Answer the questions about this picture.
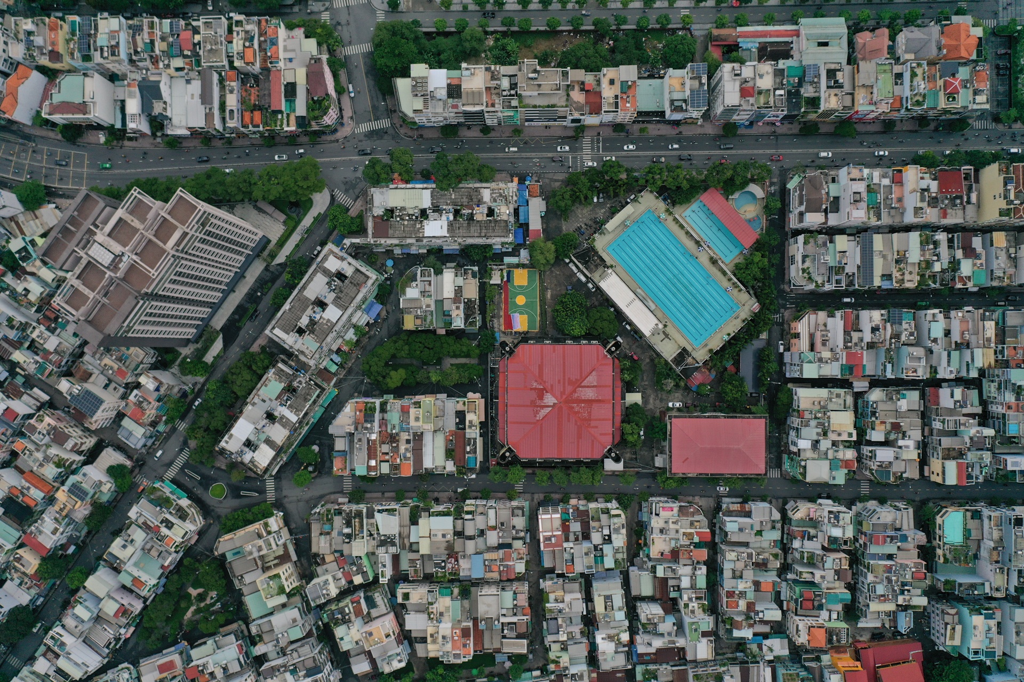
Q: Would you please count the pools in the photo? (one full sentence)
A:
The count of pools comes to 3.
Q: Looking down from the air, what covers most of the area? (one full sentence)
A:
For the most part, this view shows buildings.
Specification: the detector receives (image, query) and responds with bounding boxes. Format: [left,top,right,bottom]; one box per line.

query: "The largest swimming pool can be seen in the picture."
[586,187,754,372]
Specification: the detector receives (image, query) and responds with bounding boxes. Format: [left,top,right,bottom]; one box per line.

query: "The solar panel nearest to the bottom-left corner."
[70,482,92,501]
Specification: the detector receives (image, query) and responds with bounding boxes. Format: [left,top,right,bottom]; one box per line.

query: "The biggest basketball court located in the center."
[504,268,539,331]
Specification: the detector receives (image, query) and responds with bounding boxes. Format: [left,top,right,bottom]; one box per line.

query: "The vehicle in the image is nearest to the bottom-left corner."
[30,621,43,636]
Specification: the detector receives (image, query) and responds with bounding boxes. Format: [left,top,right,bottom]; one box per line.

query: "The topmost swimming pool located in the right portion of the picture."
[717,184,766,233]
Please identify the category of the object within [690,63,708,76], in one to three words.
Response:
solar panel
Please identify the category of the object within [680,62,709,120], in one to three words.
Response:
house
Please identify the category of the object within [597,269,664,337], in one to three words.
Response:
building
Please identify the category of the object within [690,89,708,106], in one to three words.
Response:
solar panel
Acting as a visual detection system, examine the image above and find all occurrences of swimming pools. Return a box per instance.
[586,187,754,372]
[717,184,766,233]
[676,190,760,289]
